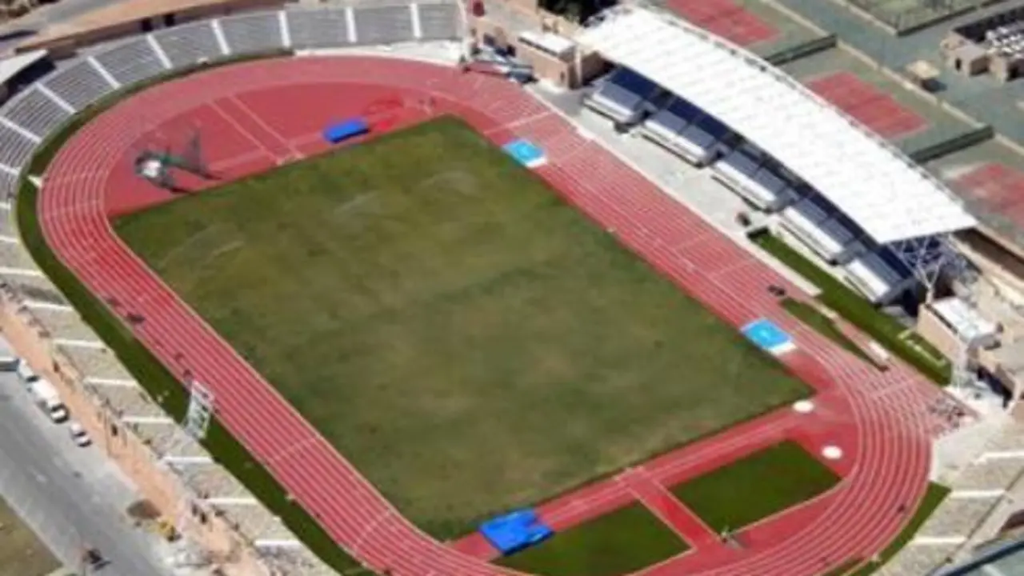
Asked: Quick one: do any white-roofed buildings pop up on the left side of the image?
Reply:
Yes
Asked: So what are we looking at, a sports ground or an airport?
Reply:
sports ground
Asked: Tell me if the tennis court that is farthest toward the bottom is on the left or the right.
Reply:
right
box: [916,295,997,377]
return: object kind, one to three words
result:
building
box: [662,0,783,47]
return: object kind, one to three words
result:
tennis court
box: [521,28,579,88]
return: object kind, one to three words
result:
building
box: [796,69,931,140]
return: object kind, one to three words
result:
tennis court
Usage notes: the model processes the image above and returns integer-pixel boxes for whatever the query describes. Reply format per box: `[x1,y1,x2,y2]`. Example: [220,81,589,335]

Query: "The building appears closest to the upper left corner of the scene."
[0,45,48,99]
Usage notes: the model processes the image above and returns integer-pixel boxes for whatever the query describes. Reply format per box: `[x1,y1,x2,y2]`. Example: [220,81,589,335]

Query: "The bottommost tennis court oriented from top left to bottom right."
[950,162,1024,228]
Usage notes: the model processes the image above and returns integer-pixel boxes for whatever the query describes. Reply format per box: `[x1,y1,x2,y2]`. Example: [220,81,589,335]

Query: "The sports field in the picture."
[114,116,813,537]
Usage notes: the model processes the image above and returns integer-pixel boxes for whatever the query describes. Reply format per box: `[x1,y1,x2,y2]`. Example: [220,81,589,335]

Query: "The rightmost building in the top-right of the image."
[941,28,1024,83]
